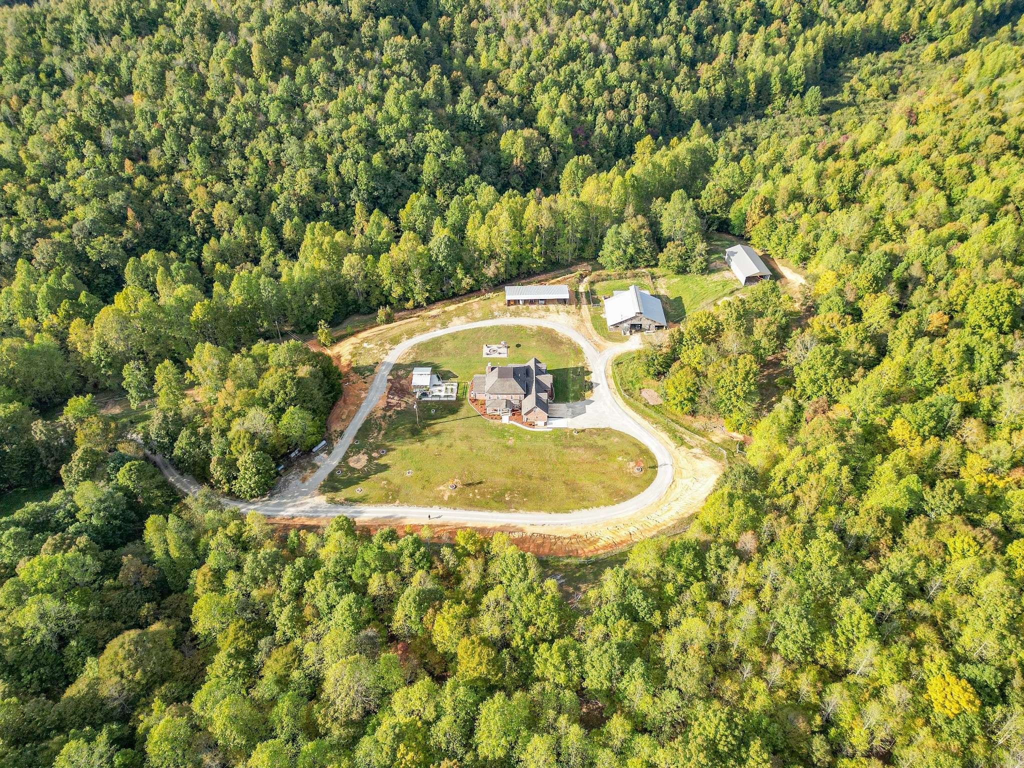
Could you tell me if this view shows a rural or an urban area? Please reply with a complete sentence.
The area shown here is rural.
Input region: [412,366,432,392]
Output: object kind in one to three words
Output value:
building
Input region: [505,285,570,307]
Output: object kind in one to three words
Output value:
shed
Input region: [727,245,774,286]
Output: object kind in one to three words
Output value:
shed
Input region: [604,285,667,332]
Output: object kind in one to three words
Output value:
barn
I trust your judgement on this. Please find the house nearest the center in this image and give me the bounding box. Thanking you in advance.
[472,357,553,426]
